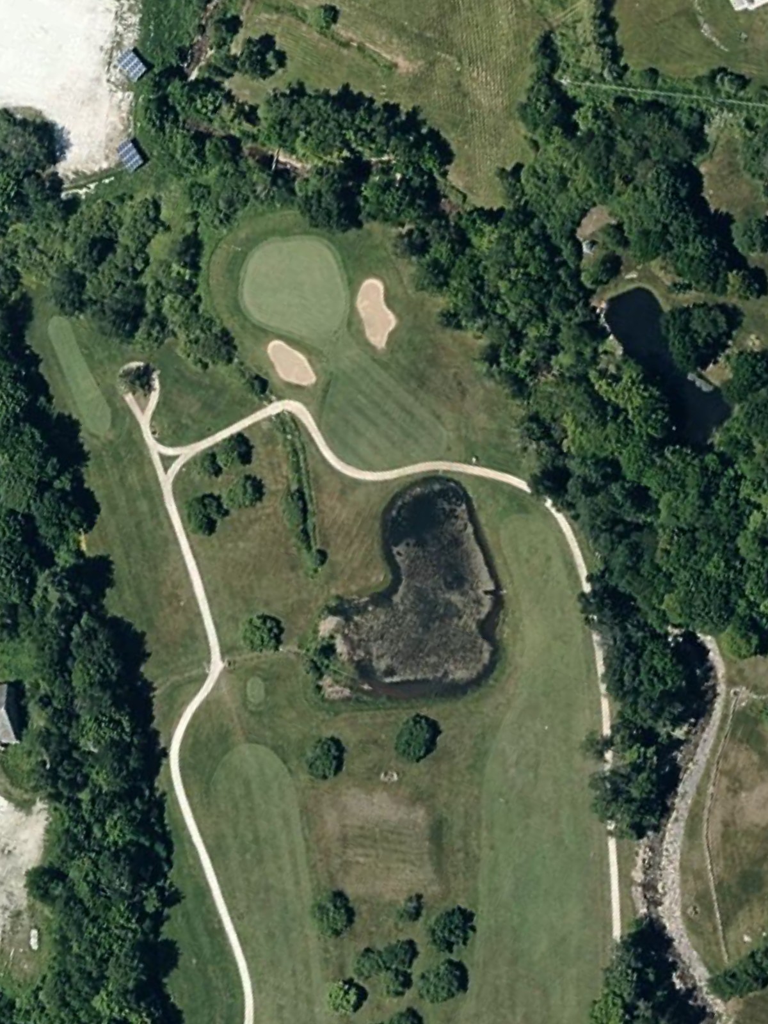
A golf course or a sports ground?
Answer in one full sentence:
This looks like a golf course.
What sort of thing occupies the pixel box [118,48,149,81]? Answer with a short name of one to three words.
solar array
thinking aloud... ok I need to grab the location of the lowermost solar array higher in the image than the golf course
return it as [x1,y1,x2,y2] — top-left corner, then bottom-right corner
[117,140,145,171]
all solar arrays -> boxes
[117,140,145,171]
[118,48,149,81]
